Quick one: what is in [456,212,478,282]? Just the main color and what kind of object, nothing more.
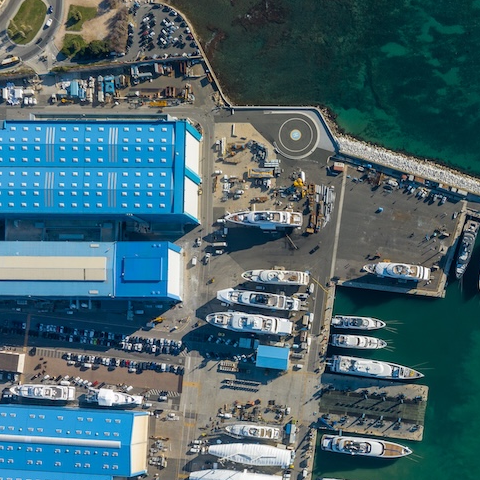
gray boat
